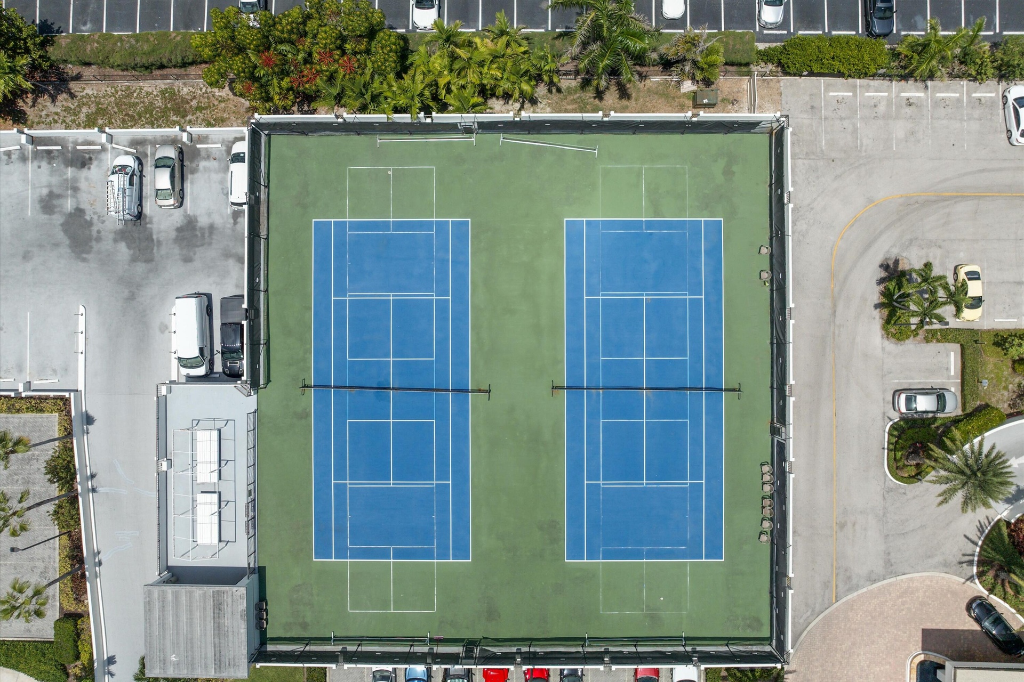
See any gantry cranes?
No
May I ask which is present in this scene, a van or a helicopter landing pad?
van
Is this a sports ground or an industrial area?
sports ground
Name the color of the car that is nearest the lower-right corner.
black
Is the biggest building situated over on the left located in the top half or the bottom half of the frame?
bottom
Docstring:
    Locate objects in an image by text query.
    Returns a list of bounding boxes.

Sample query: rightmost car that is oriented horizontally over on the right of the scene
[889,388,957,416]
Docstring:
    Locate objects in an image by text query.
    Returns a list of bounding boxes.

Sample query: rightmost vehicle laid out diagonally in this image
[966,596,1024,658]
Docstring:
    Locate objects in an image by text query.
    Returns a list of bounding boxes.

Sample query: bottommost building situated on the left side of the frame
[144,575,266,678]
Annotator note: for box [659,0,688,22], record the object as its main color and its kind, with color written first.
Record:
white car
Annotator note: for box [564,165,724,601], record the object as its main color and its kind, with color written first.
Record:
blue tennis court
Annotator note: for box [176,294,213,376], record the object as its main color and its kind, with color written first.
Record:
white van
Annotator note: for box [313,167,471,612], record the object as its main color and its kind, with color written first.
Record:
blue tennis court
